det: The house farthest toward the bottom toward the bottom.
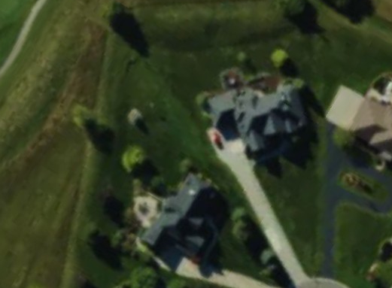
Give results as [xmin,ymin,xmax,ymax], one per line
[138,167,226,263]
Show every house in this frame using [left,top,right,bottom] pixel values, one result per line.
[204,80,311,159]
[348,94,392,163]
[138,167,226,263]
